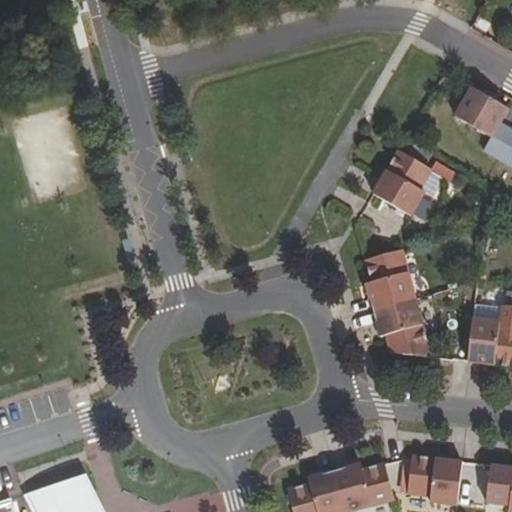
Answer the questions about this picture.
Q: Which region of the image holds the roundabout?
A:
bottom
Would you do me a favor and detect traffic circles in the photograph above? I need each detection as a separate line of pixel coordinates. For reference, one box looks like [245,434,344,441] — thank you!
[104,276,372,512]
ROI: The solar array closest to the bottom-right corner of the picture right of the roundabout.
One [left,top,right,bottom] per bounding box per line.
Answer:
[470,344,492,363]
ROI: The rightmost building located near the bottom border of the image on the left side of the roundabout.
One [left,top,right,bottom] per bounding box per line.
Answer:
[23,473,103,512]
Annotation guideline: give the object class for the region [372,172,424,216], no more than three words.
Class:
house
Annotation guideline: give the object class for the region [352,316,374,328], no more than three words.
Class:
vehicle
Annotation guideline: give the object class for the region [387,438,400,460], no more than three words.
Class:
vehicle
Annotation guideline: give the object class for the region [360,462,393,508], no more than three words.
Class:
house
